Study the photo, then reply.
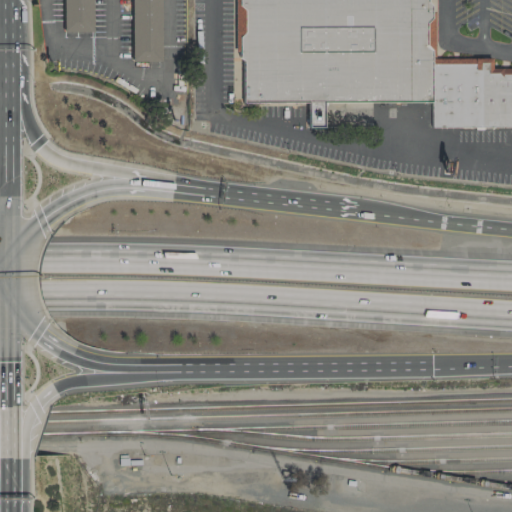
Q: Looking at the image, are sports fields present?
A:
No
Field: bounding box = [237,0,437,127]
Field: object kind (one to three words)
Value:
building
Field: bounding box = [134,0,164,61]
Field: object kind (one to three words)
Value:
building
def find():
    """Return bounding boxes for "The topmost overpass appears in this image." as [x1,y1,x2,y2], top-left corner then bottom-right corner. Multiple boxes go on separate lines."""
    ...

[0,195,110,361]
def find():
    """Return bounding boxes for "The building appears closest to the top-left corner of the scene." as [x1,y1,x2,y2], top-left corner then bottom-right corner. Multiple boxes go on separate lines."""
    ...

[65,0,96,32]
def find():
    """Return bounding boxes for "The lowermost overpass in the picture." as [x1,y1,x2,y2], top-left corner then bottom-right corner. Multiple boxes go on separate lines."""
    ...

[0,394,62,458]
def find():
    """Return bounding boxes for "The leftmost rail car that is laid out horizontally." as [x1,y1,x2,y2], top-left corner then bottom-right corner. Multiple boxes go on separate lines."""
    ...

[389,466,433,478]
